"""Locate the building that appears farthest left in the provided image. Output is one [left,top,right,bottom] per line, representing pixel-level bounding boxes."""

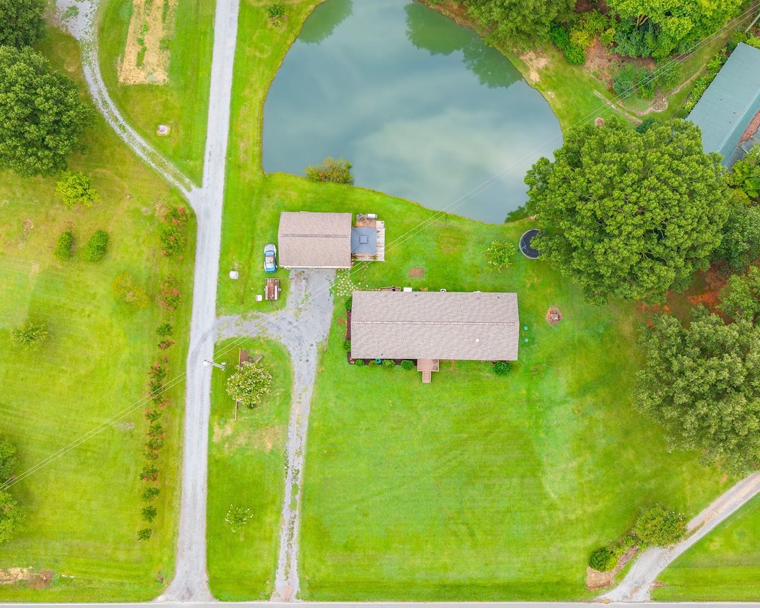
[278,212,353,270]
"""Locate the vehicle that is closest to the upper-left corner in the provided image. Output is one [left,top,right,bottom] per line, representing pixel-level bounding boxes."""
[263,244,278,275]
